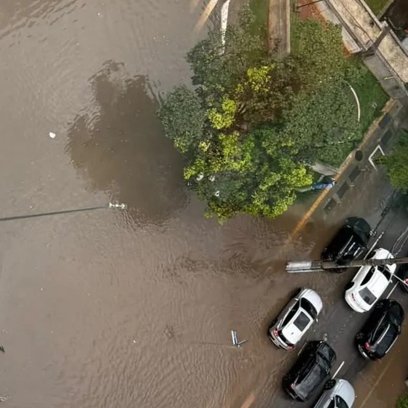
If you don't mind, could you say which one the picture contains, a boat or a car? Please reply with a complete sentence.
It is a car that can be seen here.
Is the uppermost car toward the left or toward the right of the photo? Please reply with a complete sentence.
You can find the uppermost car on the right side of the picture.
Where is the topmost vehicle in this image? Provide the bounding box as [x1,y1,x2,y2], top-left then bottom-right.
[323,215,366,264]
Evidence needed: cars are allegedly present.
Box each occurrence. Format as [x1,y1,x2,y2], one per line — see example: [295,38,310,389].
[358,302,402,361]
[316,382,352,408]
[285,340,335,404]
[268,288,319,352]
[347,251,390,311]
[323,215,366,264]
